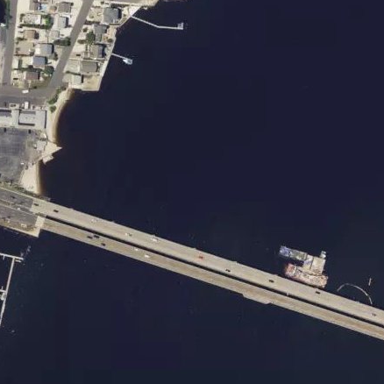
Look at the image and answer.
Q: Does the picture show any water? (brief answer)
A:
Yes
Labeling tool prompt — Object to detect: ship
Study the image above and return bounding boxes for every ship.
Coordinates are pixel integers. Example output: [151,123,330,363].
[302,255,313,270]
[311,257,325,275]
[285,263,328,287]
[279,245,307,261]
